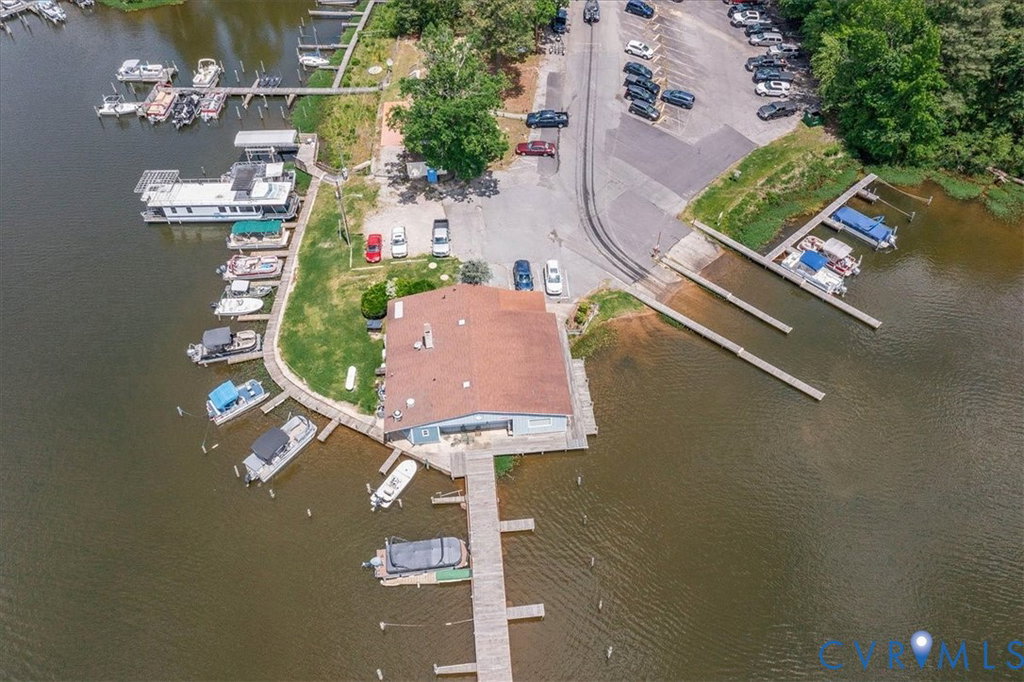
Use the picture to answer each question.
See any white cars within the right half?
Yes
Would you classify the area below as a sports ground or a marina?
marina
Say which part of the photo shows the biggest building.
center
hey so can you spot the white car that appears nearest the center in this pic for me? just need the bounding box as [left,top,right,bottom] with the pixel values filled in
[543,260,564,296]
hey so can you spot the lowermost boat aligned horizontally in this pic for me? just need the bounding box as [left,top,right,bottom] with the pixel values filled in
[368,536,469,584]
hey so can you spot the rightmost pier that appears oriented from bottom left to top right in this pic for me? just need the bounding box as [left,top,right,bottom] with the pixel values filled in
[764,176,876,264]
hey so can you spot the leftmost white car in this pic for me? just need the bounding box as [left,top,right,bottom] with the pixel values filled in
[388,224,408,260]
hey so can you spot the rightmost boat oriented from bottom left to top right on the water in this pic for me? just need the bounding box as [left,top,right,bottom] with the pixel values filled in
[368,460,415,516]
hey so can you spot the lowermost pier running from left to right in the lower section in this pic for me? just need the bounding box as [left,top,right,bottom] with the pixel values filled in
[434,660,476,679]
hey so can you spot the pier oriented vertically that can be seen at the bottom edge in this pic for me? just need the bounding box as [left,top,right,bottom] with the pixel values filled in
[466,453,509,682]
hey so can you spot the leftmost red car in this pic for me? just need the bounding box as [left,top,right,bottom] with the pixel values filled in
[363,232,384,265]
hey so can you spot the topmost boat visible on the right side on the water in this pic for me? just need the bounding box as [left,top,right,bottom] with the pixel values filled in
[833,207,900,253]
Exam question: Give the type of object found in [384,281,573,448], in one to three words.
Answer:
building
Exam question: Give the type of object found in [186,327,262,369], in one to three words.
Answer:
boat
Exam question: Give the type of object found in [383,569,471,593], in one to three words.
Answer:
pier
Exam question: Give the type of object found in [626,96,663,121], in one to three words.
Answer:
car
